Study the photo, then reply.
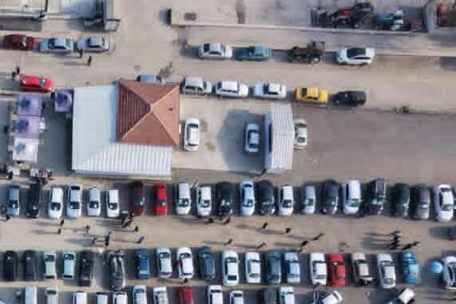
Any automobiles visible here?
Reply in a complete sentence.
Yes, the frame does contain an automobile.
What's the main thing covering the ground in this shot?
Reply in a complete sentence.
The scene is dominated by paved ground.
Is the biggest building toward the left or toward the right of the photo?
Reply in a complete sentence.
The biggest building is on the left side of the image.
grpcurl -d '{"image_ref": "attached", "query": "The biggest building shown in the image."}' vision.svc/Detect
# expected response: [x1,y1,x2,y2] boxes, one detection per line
[72,80,180,184]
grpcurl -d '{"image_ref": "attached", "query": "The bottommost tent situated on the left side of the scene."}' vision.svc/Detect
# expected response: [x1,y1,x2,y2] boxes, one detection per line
[12,138,38,166]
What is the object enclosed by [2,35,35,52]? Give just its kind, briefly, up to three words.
car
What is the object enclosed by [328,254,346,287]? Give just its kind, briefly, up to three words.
car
